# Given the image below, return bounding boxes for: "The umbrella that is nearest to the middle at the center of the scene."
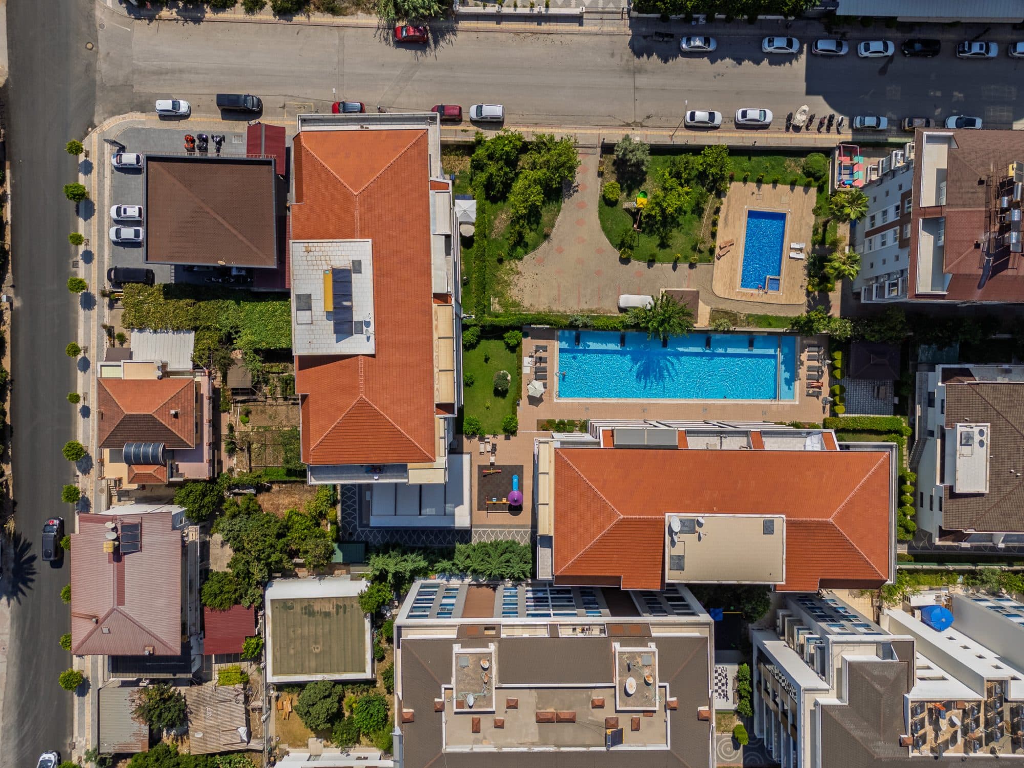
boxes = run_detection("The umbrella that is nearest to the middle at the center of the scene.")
[527,378,546,397]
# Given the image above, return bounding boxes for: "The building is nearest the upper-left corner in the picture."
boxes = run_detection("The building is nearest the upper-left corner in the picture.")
[142,153,285,269]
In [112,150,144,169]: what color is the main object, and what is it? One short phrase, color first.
white car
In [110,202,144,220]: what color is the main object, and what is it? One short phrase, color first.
white car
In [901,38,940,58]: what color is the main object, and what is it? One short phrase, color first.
black car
